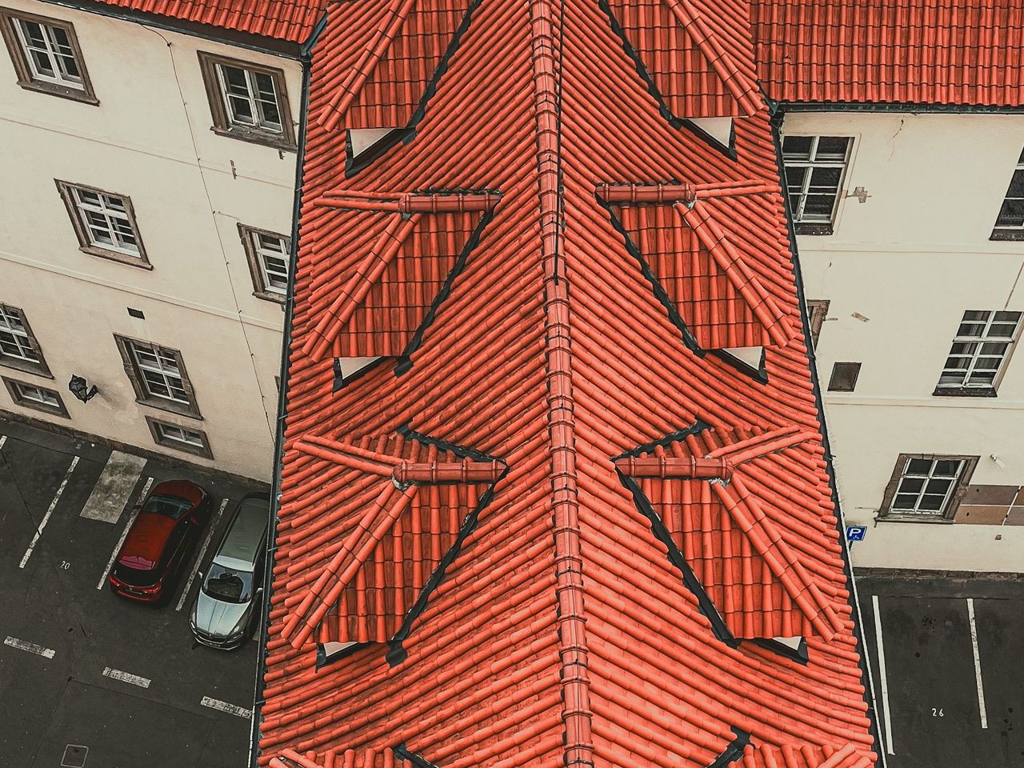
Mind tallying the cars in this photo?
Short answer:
2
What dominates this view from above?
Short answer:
buildings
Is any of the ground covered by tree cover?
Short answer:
No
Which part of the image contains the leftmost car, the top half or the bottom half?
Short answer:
bottom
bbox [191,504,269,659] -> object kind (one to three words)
car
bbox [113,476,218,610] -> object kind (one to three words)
car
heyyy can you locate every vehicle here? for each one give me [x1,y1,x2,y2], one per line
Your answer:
[113,476,218,610]
[191,504,269,659]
